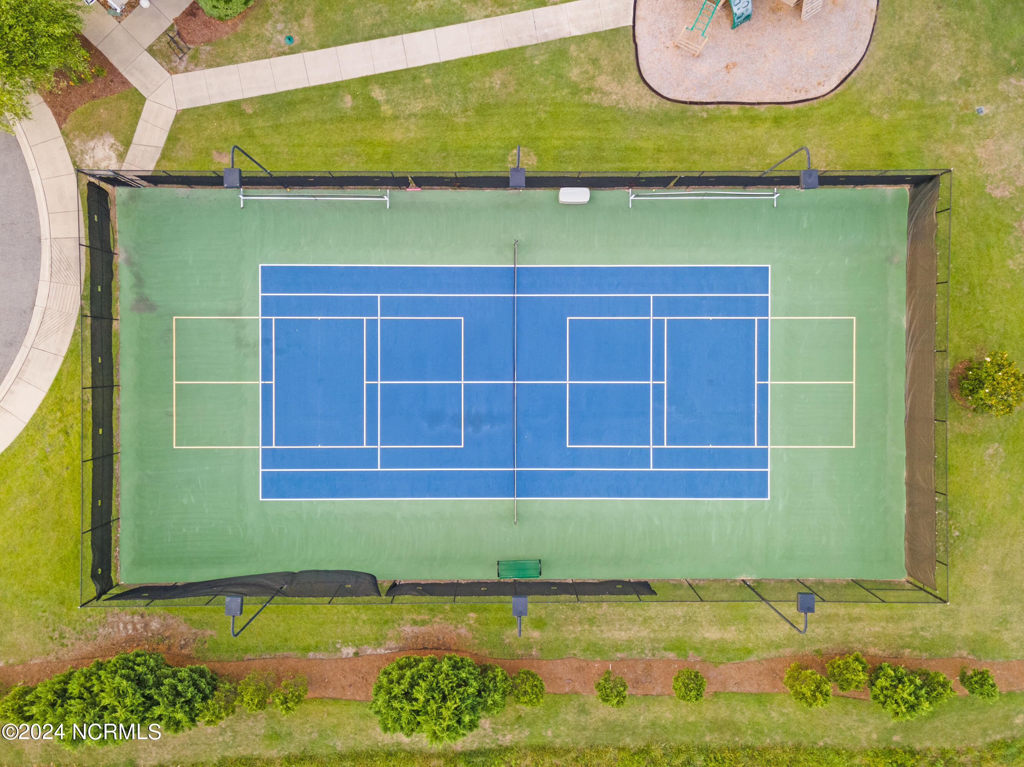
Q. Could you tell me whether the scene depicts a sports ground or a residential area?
sports ground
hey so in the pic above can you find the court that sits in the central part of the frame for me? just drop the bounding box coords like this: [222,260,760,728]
[116,187,907,585]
